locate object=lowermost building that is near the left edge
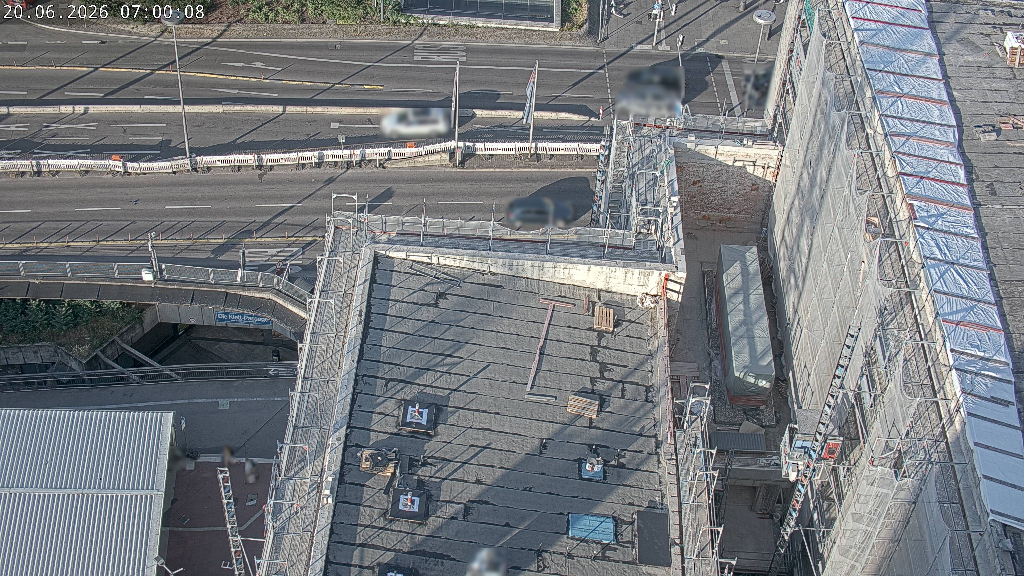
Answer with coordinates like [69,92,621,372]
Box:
[0,406,178,576]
